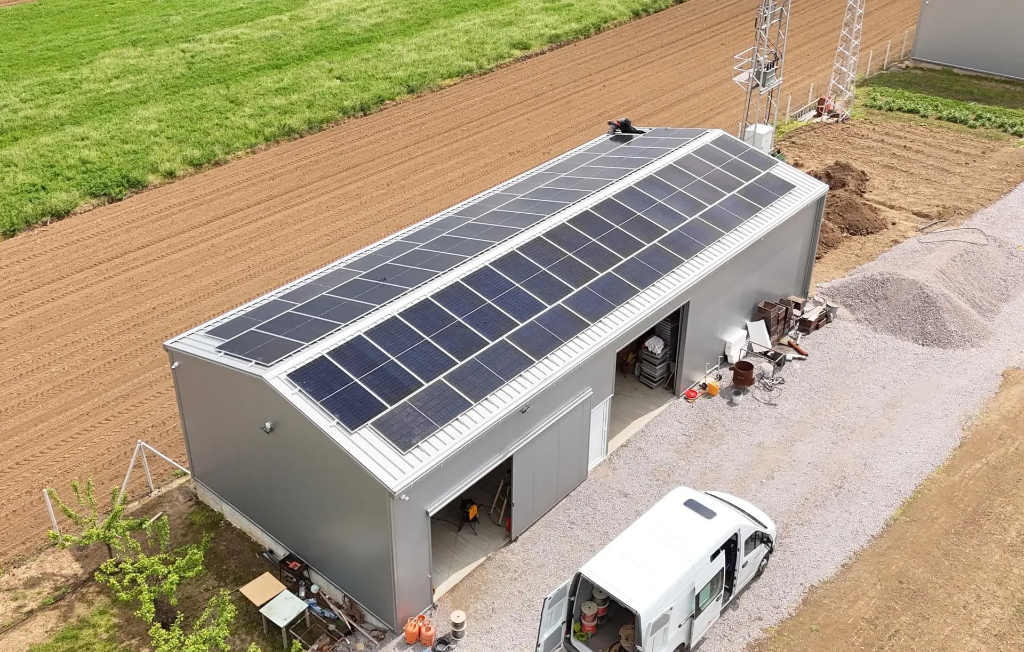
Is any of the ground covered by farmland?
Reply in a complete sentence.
Yes, there's farmland in this view.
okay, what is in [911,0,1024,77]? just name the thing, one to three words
shed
